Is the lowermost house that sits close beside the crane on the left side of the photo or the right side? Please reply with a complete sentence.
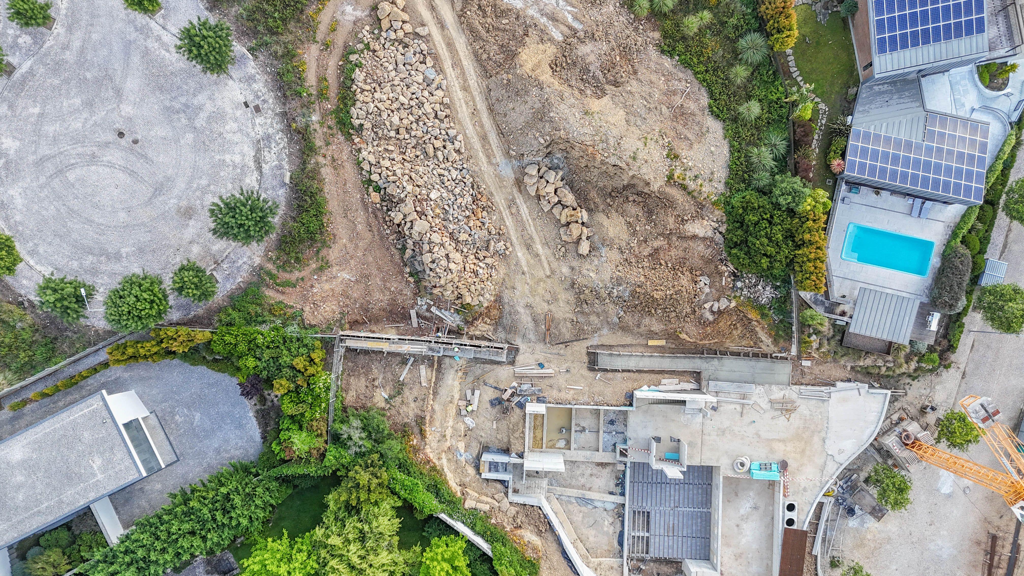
The lowermost house that sits close beside the crane is on the right side of the image.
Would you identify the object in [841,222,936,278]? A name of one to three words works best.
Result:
swimming pool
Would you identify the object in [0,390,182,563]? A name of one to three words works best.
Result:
house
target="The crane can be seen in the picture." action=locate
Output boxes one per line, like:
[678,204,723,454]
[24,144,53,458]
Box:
[904,394,1024,524]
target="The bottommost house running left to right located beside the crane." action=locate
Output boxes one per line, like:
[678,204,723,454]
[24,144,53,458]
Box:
[480,383,891,576]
